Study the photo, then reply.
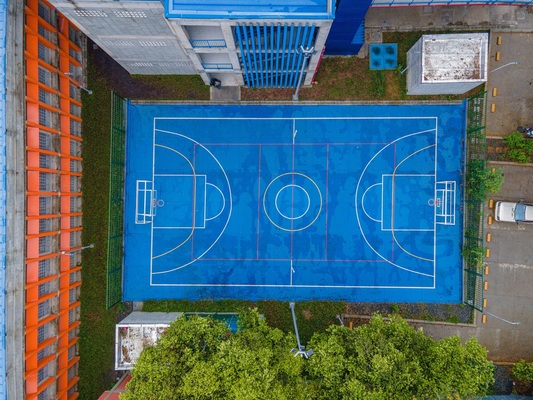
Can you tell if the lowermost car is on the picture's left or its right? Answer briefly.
right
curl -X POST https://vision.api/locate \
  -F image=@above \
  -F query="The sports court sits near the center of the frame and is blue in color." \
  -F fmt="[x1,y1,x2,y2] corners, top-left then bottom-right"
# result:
[122,97,465,304]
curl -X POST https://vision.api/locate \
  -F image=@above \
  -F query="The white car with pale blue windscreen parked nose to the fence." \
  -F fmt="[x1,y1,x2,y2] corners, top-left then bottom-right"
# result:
[494,199,533,224]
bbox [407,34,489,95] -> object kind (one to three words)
shed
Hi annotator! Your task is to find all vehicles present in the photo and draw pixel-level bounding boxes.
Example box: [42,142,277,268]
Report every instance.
[494,199,533,224]
[515,122,533,133]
